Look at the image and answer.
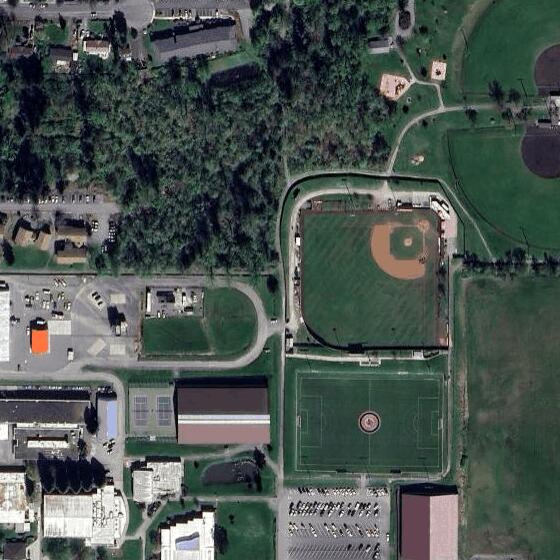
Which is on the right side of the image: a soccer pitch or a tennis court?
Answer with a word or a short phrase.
soccer pitch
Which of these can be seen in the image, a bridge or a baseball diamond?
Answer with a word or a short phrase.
baseball diamond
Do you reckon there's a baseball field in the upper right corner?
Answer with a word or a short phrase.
Yes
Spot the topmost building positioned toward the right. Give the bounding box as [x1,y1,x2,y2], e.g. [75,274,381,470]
[368,37,390,52]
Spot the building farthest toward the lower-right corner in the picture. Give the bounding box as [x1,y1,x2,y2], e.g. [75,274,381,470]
[403,490,458,560]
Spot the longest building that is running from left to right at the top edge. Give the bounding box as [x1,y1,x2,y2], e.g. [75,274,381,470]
[152,23,237,62]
